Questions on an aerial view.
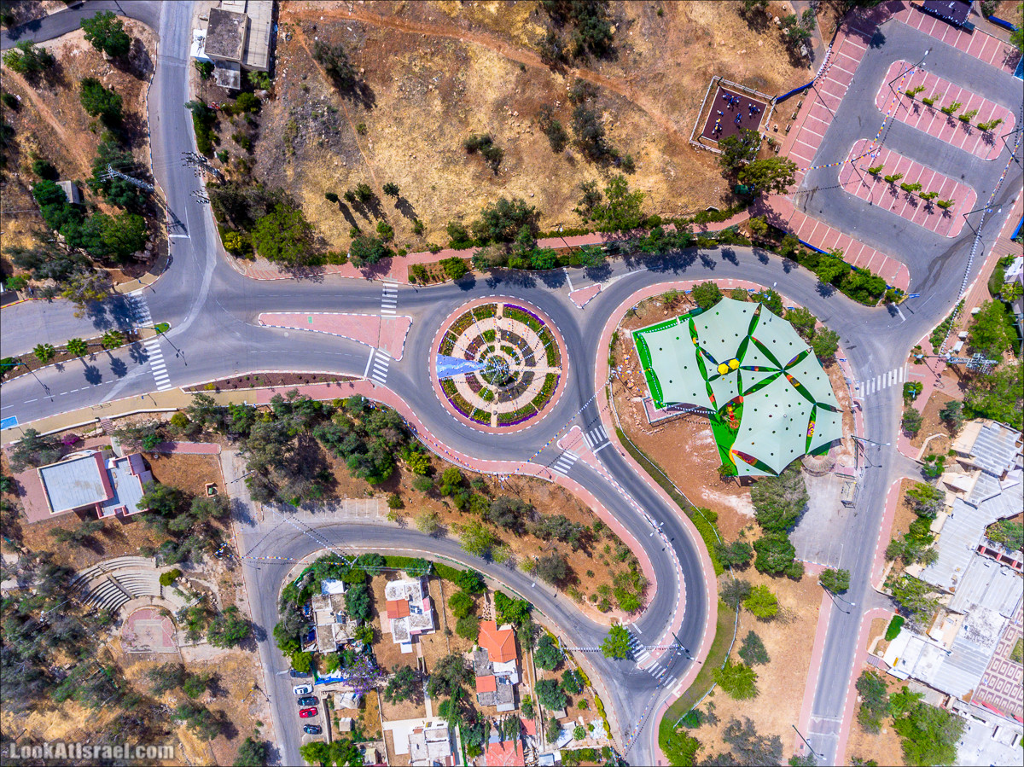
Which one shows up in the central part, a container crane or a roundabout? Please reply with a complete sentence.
What appears in the central part is a roundabout.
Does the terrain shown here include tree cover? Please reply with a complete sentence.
Yes, there's tree cover in this view.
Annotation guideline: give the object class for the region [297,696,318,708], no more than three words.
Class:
vehicle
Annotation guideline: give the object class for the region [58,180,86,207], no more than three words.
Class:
shed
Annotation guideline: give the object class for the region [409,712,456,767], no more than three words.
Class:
house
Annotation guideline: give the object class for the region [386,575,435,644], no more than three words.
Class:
house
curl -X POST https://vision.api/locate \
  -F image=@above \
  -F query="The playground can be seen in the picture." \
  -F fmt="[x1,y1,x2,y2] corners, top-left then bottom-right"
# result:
[631,300,841,477]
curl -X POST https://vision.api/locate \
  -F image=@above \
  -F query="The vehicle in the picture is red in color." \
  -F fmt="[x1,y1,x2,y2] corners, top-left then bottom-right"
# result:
[297,707,319,720]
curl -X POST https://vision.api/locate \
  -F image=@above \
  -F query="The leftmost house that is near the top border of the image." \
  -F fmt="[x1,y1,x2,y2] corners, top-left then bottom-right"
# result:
[204,0,279,93]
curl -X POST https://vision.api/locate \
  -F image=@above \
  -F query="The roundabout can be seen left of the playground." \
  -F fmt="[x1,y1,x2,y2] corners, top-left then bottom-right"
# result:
[413,279,584,450]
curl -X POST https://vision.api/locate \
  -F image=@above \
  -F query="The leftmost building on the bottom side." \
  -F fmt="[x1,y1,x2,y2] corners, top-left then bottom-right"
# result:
[36,449,160,518]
